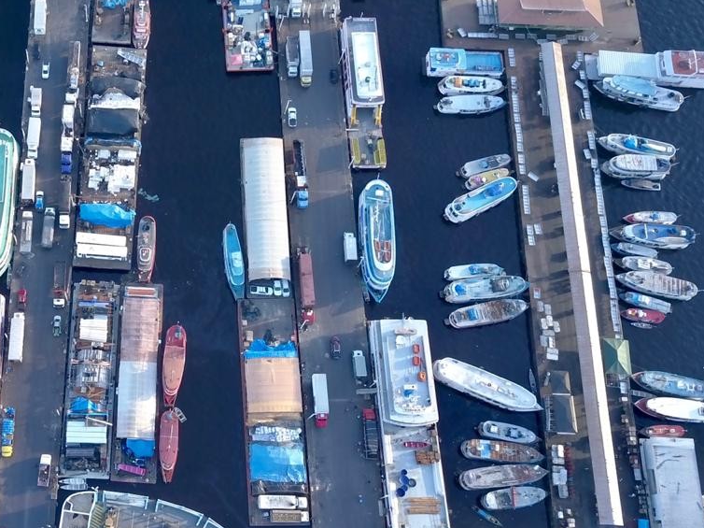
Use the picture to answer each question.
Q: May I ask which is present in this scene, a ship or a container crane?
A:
ship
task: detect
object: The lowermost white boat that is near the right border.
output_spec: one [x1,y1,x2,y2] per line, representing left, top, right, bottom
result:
[629,395,704,425]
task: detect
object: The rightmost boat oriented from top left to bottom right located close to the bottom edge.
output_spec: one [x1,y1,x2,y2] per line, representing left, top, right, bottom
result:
[473,505,504,527]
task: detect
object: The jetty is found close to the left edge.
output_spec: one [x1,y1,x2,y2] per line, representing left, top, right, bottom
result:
[0,0,93,528]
